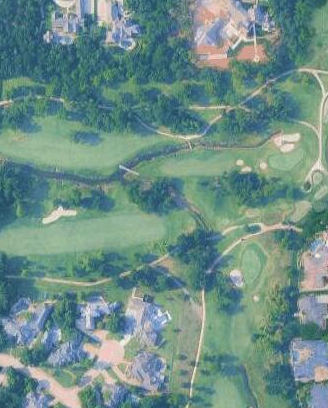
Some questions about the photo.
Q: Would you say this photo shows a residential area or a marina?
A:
residential area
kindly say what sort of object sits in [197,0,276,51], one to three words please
house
